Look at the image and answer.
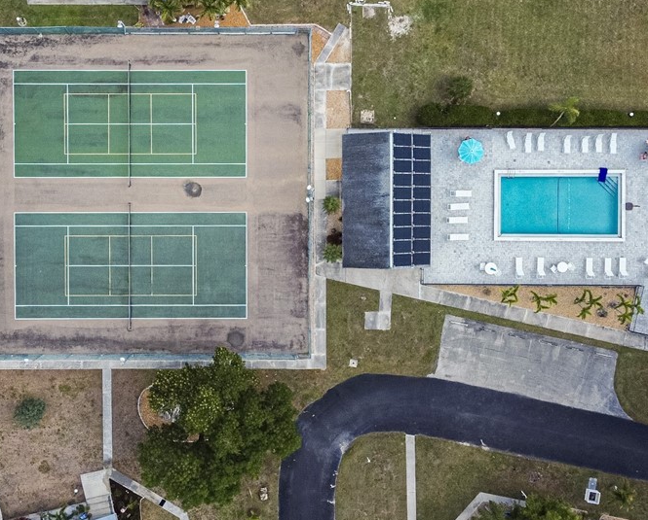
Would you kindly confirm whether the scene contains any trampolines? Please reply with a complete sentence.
No, the picture doesn't show any trampoline.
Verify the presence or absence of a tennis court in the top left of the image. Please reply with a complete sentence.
Yes, I can see a tennis court in the top left of the image.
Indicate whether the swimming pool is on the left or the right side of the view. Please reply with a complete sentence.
The swimming pool sits on the right side.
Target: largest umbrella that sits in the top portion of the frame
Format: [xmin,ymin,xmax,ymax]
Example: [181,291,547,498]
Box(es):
[457,139,483,164]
